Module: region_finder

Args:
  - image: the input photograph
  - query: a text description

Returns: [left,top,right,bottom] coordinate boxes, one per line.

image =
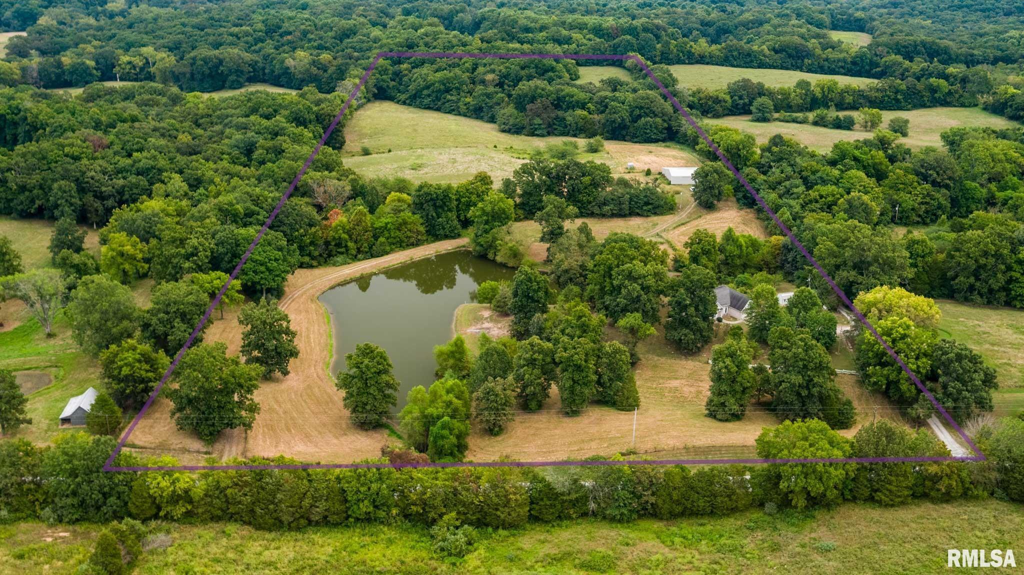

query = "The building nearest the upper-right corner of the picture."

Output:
[664,166,707,184]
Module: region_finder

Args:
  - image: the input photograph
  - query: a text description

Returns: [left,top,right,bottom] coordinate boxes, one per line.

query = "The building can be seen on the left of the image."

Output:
[55,384,108,426]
